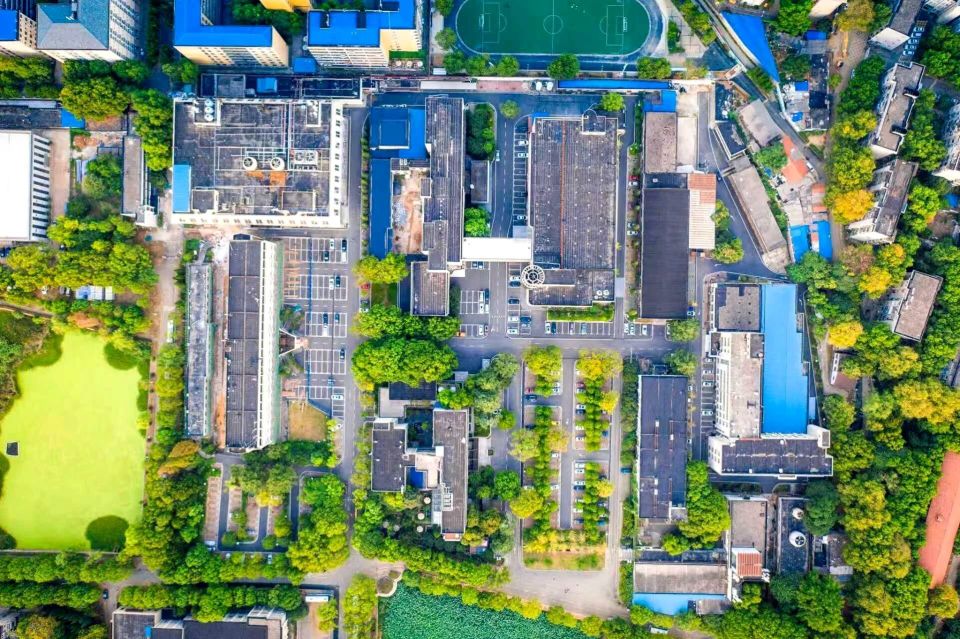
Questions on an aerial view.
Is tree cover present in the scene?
Yes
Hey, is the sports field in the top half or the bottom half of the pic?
top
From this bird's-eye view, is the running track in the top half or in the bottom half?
top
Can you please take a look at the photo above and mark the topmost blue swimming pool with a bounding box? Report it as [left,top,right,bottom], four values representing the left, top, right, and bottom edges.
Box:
[408,468,425,488]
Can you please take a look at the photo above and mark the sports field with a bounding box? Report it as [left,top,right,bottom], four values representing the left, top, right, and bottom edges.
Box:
[439,0,668,72]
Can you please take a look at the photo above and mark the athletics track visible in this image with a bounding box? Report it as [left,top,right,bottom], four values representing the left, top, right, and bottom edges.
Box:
[440,0,667,71]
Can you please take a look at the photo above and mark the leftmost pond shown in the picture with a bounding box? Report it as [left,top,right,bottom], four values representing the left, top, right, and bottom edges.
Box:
[0,330,145,551]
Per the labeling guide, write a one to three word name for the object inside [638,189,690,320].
building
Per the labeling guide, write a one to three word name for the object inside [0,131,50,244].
building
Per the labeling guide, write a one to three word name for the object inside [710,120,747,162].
house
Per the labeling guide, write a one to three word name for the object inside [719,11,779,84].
shed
